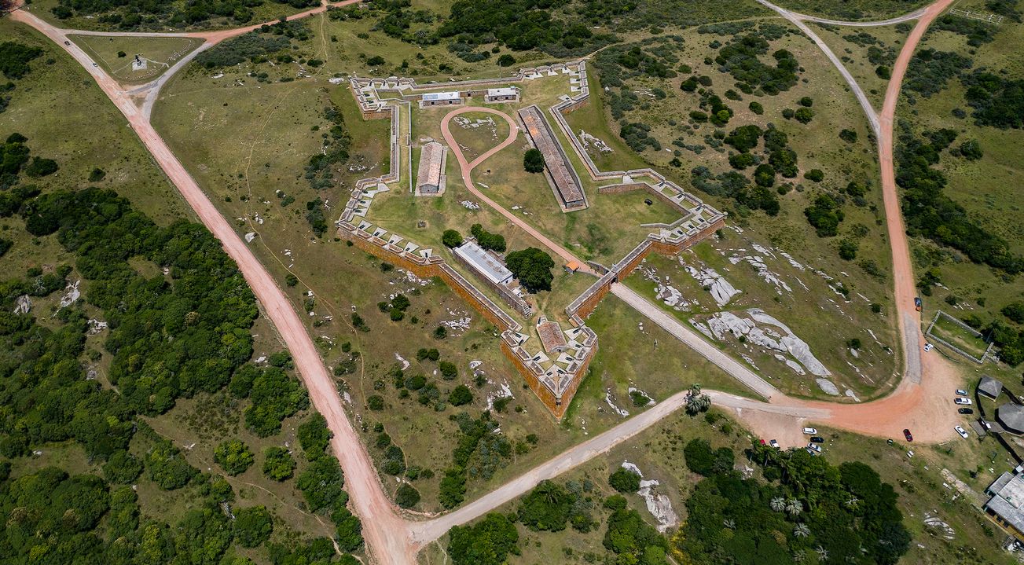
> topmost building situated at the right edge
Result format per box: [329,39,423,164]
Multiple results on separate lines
[978,376,1003,401]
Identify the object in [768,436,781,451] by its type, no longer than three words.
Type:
vehicle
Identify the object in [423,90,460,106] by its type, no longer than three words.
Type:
shed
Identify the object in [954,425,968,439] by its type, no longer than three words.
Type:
car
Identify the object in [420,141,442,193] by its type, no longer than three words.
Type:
house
